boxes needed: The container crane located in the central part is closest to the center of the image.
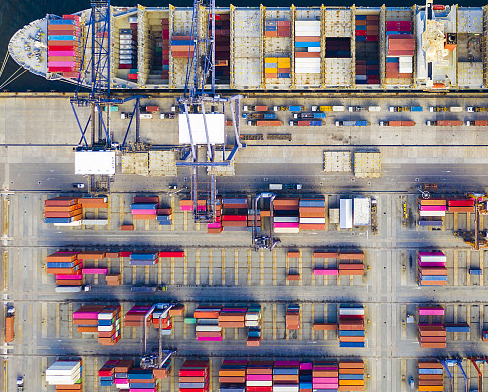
[254,193,278,258]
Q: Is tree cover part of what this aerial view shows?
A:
No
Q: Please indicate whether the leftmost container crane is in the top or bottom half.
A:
top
